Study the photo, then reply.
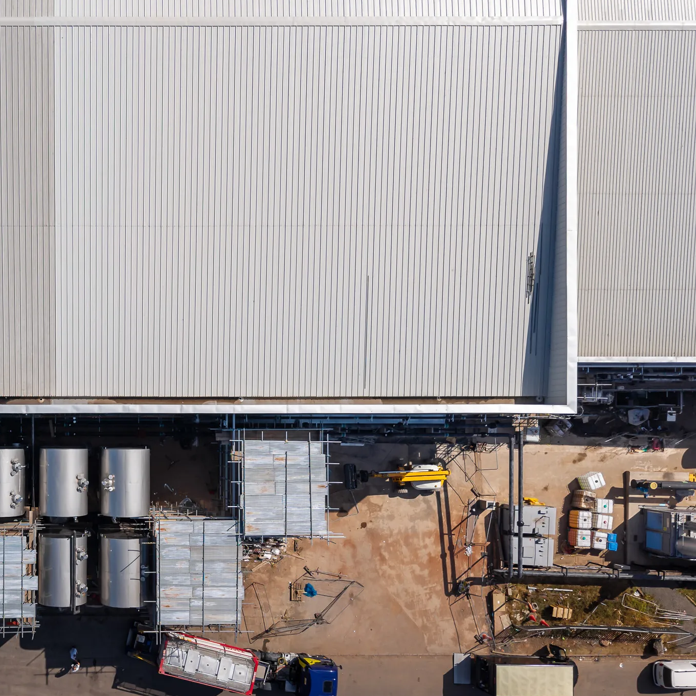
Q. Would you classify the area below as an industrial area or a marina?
industrial area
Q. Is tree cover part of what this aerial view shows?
No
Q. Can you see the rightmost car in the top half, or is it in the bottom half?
bottom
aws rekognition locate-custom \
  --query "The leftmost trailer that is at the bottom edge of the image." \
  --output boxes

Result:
[129,614,267,695]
